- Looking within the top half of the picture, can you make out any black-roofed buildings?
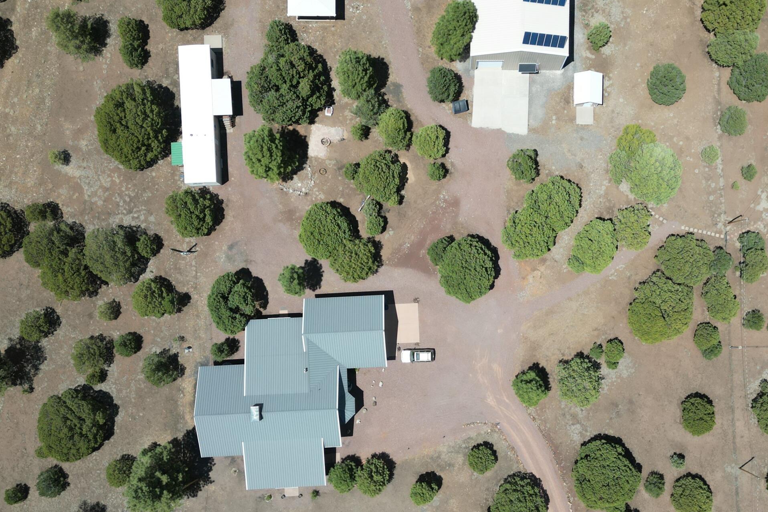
No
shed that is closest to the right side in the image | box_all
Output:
[573,70,602,107]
